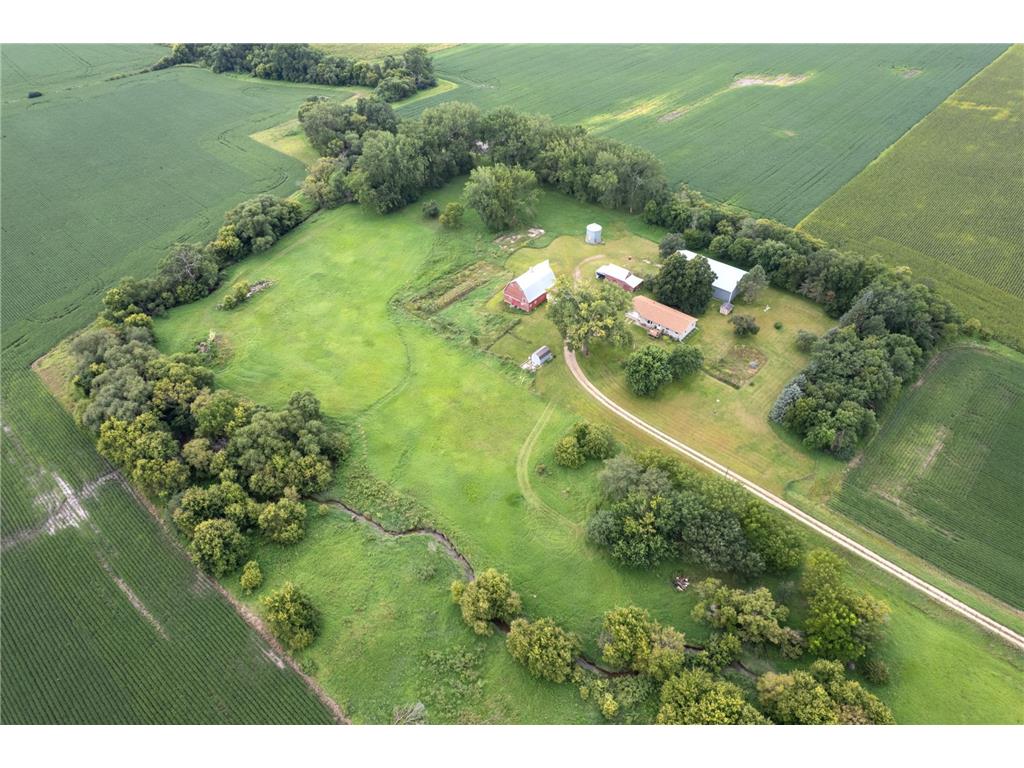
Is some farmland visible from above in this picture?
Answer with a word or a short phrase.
Yes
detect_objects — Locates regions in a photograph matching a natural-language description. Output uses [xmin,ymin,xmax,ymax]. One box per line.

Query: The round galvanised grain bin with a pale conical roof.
[585,219,605,243]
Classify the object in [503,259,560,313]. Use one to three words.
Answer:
barn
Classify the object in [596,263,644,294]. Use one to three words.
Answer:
shed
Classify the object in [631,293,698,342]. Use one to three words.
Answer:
house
